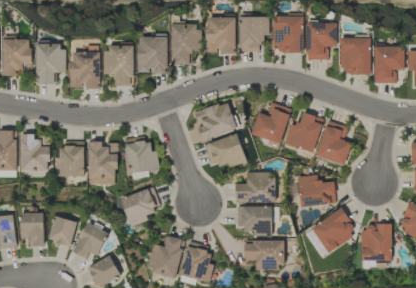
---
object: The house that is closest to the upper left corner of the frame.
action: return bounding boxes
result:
[1,34,32,76]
